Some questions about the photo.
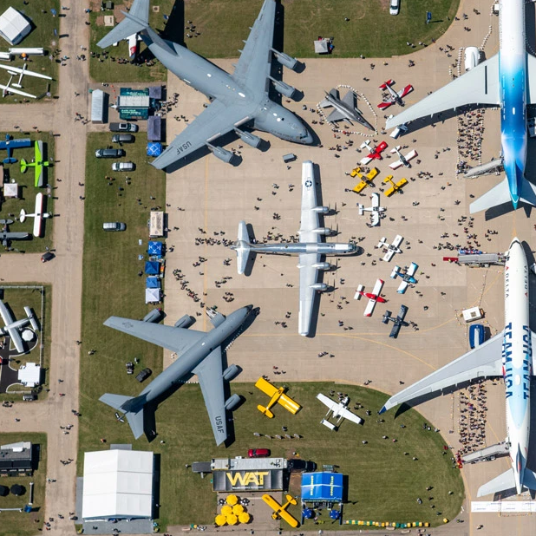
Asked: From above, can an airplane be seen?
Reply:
Yes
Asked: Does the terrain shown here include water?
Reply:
No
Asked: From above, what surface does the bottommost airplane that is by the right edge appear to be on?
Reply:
apron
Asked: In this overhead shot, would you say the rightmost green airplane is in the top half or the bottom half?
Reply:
top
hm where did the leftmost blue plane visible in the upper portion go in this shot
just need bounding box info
[0,133,31,164]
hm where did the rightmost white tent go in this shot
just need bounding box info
[82,451,154,522]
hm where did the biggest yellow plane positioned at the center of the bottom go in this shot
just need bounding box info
[255,377,300,420]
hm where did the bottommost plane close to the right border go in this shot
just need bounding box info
[379,238,536,497]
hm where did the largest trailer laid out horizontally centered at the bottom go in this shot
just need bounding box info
[192,458,289,490]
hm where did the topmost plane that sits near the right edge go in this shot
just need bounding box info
[388,0,536,214]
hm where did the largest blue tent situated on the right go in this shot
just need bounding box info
[302,473,344,528]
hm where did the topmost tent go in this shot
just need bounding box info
[0,6,31,45]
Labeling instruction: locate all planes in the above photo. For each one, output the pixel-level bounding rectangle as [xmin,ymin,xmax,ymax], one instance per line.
[390,262,419,294]
[0,300,39,353]
[231,162,358,333]
[358,192,388,226]
[388,0,536,214]
[388,111,412,140]
[378,234,404,261]
[317,87,375,131]
[379,238,536,497]
[391,144,420,170]
[0,64,52,86]
[0,68,37,98]
[18,192,54,236]
[361,138,390,165]
[97,0,315,169]
[255,377,300,420]
[352,165,380,193]
[0,133,31,164]
[0,221,29,250]
[263,495,296,526]
[353,278,389,316]
[318,391,363,431]
[122,37,145,60]
[379,79,415,110]
[381,303,411,338]
[101,305,253,445]
[19,139,51,185]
